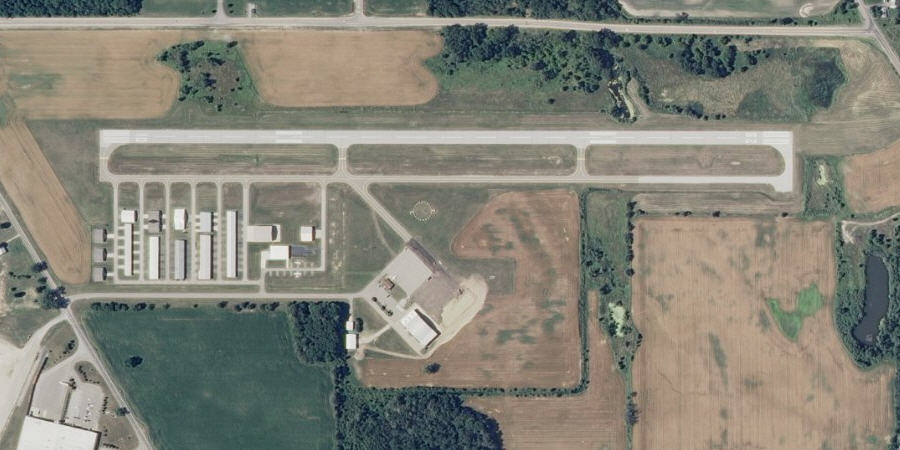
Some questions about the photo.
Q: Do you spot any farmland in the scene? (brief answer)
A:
Yes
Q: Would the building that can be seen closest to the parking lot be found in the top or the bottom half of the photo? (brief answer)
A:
bottom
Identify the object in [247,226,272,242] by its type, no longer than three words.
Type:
hangar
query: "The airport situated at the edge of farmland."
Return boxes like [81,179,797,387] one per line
[99,129,793,356]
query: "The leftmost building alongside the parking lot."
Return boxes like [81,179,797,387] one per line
[17,417,98,450]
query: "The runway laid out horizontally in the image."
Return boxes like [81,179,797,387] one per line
[99,129,793,145]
